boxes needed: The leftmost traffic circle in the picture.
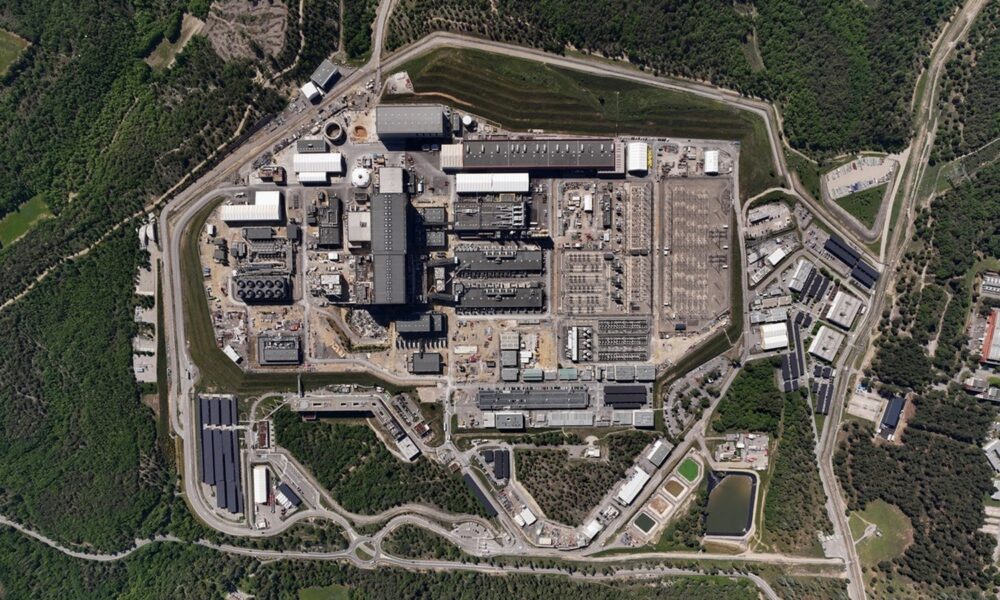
[350,536,381,566]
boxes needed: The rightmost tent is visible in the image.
[704,150,719,173]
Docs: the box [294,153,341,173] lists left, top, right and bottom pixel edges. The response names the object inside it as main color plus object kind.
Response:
white tent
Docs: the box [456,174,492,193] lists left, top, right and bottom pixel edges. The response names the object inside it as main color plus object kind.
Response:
white tent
